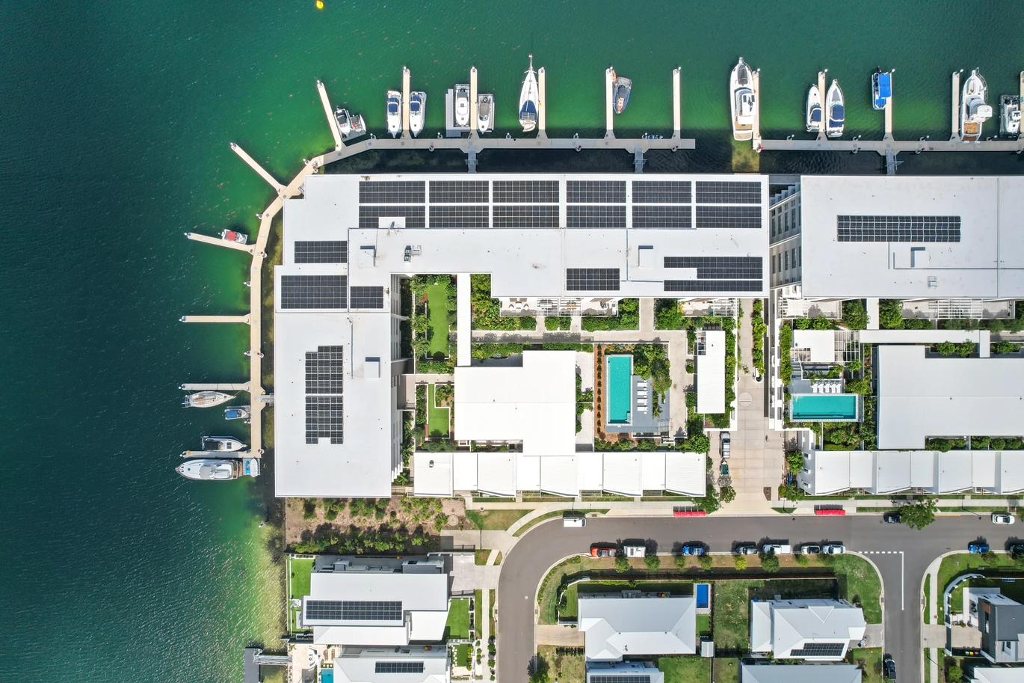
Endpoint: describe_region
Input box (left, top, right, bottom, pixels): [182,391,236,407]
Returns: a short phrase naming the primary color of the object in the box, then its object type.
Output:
white boat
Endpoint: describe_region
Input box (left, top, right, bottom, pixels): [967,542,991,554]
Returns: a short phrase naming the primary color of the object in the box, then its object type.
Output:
blue vehicle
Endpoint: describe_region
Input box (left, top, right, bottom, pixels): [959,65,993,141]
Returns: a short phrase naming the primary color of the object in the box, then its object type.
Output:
white boat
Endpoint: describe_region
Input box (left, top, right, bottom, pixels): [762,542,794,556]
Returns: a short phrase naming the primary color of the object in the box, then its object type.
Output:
white car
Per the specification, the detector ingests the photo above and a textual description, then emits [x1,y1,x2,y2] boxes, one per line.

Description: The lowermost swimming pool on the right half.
[696,583,710,613]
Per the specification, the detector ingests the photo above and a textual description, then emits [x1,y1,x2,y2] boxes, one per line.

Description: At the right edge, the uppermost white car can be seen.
[990,513,1015,525]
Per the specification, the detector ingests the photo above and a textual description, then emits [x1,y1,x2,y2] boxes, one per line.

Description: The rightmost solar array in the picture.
[838,216,961,242]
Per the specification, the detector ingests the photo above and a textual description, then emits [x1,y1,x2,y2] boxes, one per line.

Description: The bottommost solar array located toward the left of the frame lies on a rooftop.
[375,661,424,674]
